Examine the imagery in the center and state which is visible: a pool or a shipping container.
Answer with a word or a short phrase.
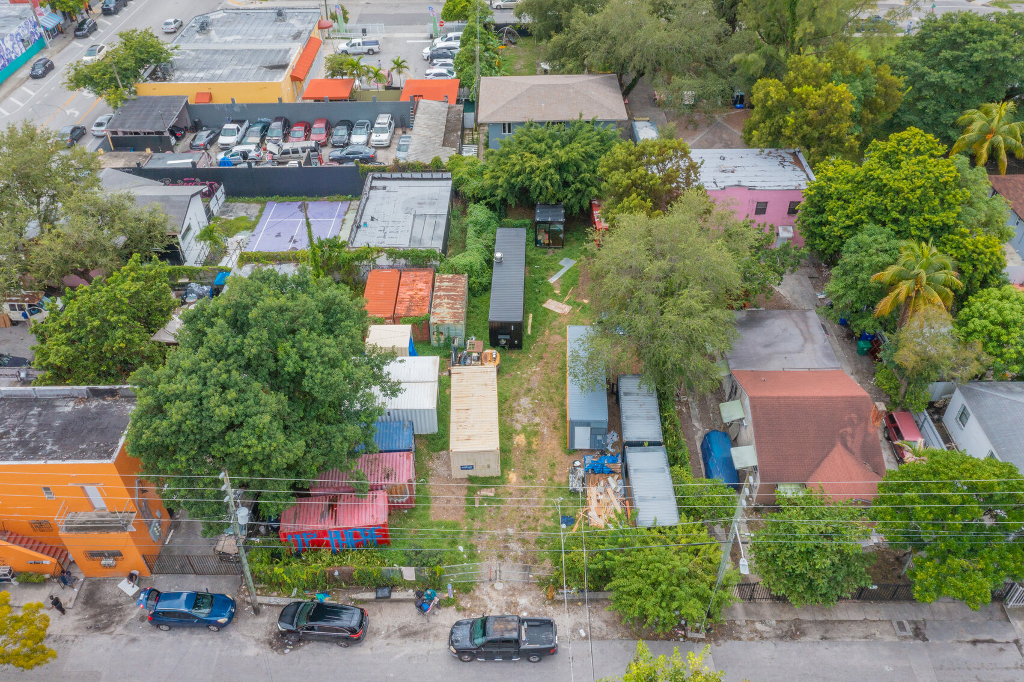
shipping container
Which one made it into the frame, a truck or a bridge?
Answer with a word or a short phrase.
truck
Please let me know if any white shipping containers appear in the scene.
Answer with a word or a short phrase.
Yes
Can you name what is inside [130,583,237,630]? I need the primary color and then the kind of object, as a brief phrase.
blue car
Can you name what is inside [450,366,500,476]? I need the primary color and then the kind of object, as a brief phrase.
white shipping container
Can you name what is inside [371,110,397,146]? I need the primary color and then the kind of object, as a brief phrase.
white car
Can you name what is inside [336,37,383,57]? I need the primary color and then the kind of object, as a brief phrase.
white vehicle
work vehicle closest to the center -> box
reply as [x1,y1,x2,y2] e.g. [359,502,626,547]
[436,332,498,378]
